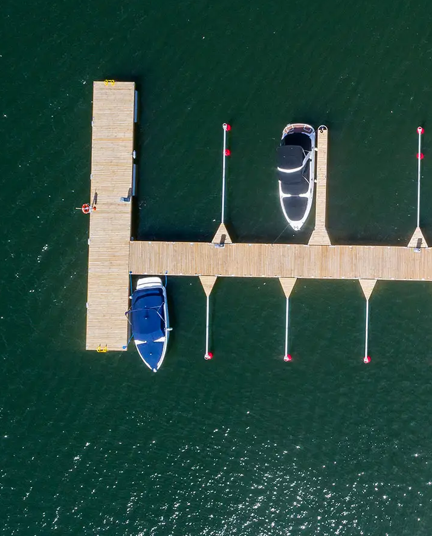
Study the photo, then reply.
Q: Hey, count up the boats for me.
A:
2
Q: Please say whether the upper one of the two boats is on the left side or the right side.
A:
right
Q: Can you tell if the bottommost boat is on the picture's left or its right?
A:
left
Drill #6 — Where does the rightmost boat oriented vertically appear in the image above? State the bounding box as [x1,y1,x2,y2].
[272,124,322,245]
